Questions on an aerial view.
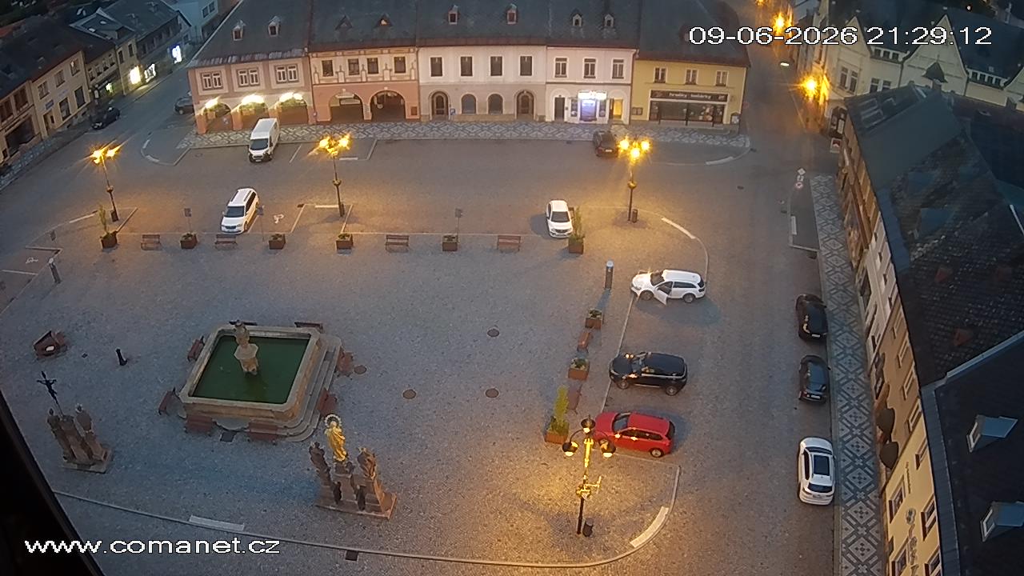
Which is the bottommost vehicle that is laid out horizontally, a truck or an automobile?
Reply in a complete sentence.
I'd say the bottommost vehicle that is laid out horizontally is an automobile.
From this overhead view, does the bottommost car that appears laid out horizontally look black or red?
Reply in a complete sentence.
The color of the bottommost car that appears laid out horizontally is red.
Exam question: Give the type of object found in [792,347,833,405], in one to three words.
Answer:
car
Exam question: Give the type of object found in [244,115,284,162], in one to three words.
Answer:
van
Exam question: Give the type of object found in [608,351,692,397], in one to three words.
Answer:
car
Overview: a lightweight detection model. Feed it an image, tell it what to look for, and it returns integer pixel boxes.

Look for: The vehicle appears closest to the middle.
[547,197,576,237]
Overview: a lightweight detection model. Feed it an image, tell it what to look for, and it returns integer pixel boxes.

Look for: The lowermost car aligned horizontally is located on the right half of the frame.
[589,408,677,458]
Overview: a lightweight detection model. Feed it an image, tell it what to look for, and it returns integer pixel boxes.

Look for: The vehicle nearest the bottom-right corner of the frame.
[793,430,839,510]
